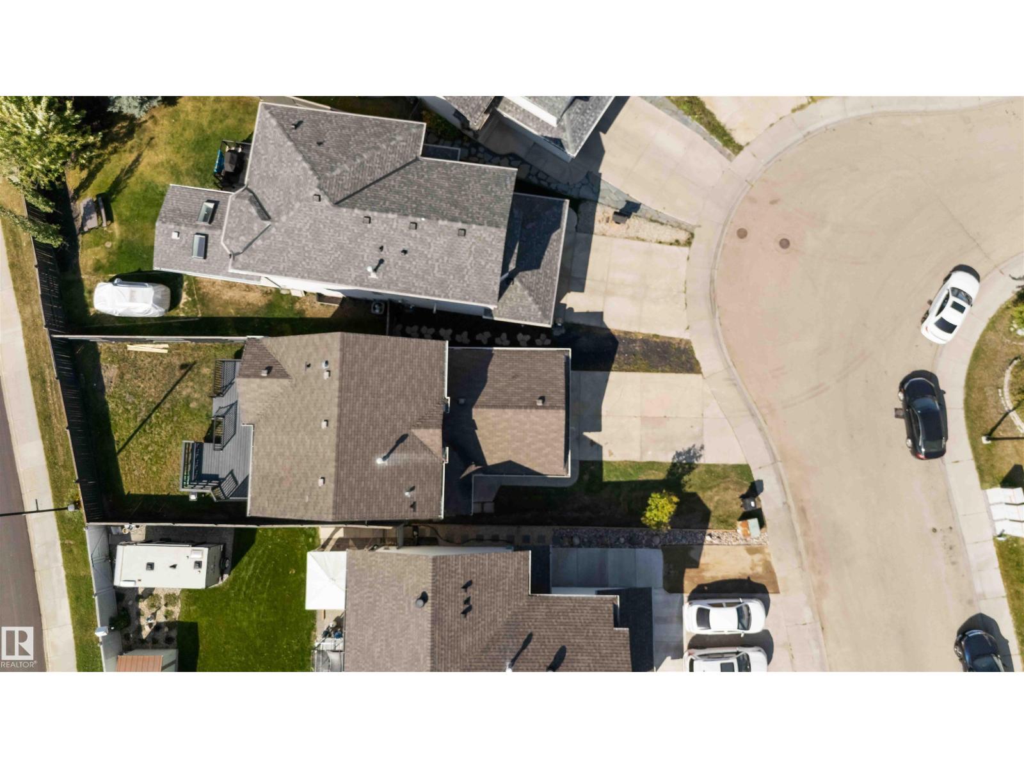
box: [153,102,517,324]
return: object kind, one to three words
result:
house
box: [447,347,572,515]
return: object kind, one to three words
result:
building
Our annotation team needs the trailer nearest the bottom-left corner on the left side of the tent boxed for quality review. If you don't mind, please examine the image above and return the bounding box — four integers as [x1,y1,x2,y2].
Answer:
[114,539,239,589]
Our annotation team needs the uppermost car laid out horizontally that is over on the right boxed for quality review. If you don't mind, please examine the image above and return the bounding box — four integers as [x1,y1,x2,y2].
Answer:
[681,597,766,639]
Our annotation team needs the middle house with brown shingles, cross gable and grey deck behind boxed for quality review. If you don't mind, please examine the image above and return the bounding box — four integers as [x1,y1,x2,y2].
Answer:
[238,332,451,521]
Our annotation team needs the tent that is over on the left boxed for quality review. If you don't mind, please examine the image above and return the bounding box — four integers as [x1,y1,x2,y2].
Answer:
[305,547,355,609]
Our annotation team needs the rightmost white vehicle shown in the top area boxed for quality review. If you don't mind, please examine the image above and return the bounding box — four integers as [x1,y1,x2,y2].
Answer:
[918,270,976,344]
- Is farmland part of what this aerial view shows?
No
